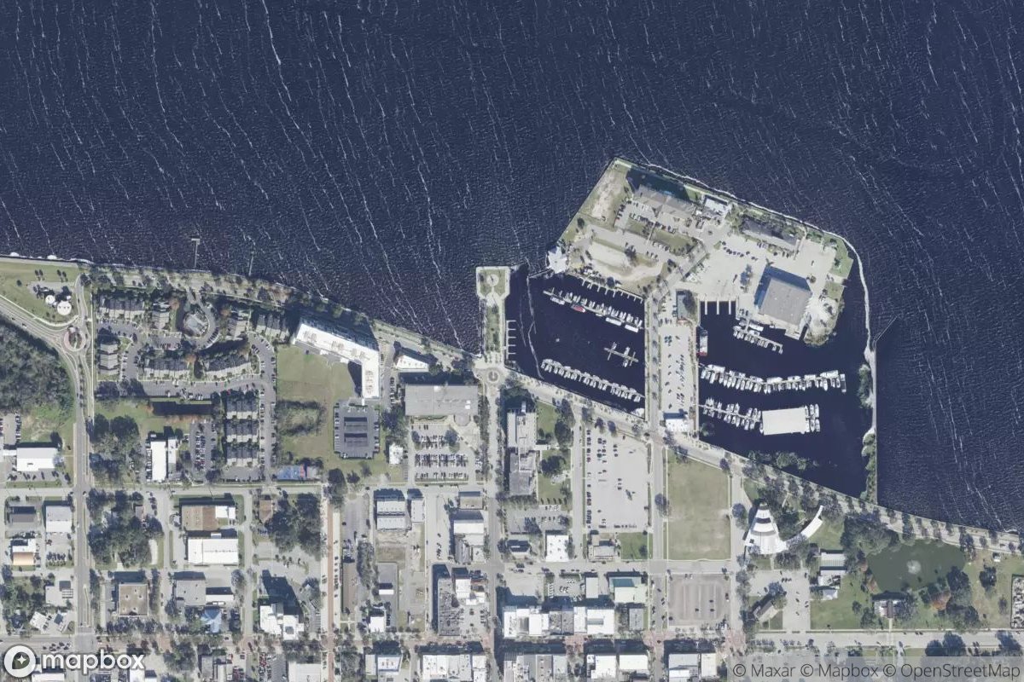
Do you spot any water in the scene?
Yes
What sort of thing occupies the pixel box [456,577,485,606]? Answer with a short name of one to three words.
building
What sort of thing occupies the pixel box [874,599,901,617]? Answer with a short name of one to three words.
house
